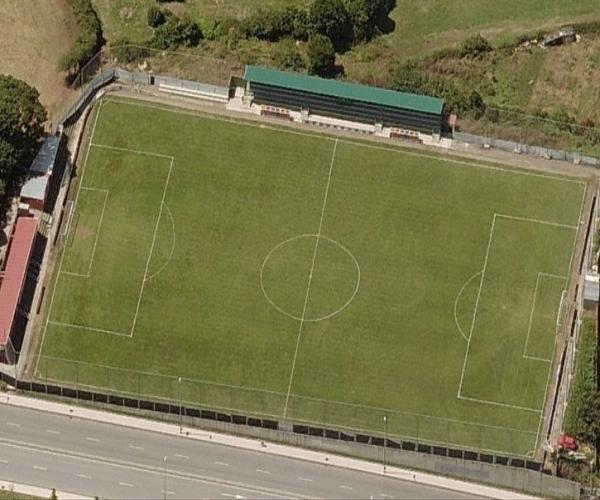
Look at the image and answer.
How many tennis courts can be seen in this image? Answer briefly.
0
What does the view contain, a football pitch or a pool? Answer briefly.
football pitch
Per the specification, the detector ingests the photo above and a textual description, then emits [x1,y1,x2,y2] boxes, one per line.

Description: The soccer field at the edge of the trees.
[29,94,589,460]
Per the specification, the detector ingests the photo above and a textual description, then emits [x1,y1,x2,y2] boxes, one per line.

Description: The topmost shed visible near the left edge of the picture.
[29,137,61,185]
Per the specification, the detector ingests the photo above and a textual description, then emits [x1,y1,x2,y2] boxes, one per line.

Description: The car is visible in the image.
[558,435,577,448]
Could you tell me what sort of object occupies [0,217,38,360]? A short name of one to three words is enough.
building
